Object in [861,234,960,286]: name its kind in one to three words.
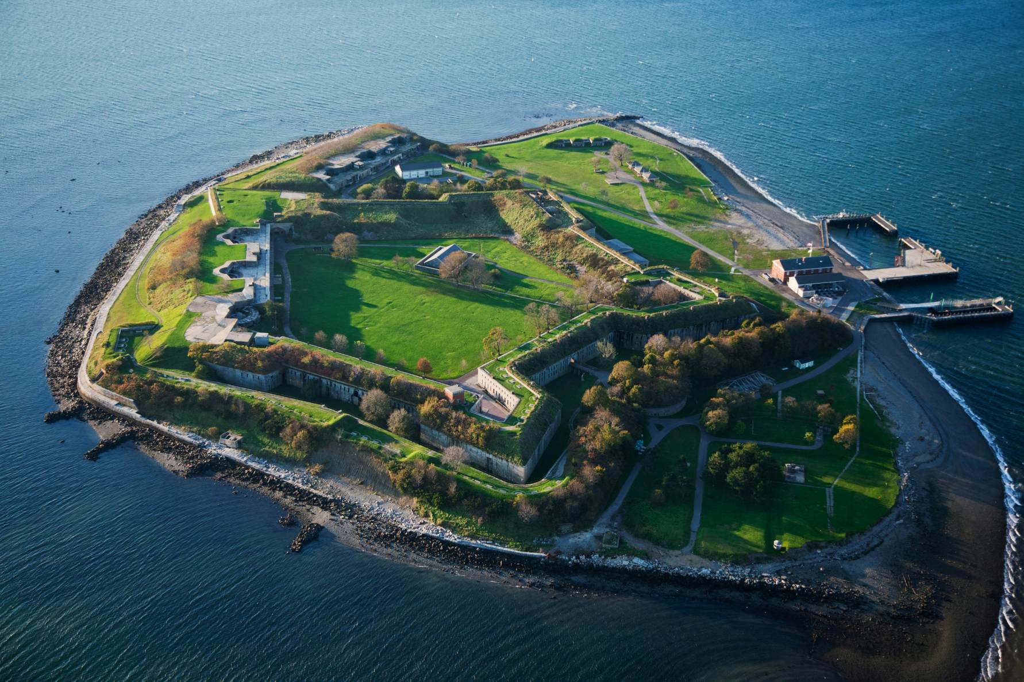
pier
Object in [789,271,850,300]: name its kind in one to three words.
building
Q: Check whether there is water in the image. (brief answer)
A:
Yes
